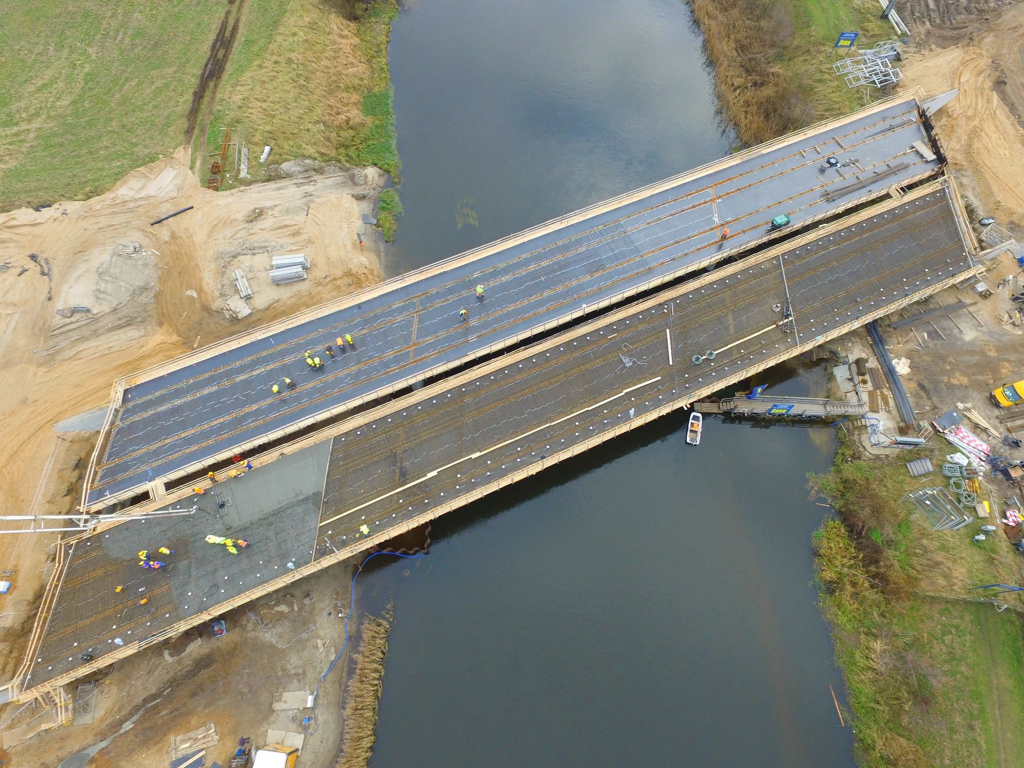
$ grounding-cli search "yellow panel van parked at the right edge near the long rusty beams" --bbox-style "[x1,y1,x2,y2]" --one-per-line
[989,382,1024,412]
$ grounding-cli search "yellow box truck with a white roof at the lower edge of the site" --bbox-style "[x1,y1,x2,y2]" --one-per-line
[252,736,296,768]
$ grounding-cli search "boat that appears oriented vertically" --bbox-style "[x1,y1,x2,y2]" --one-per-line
[685,411,703,449]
